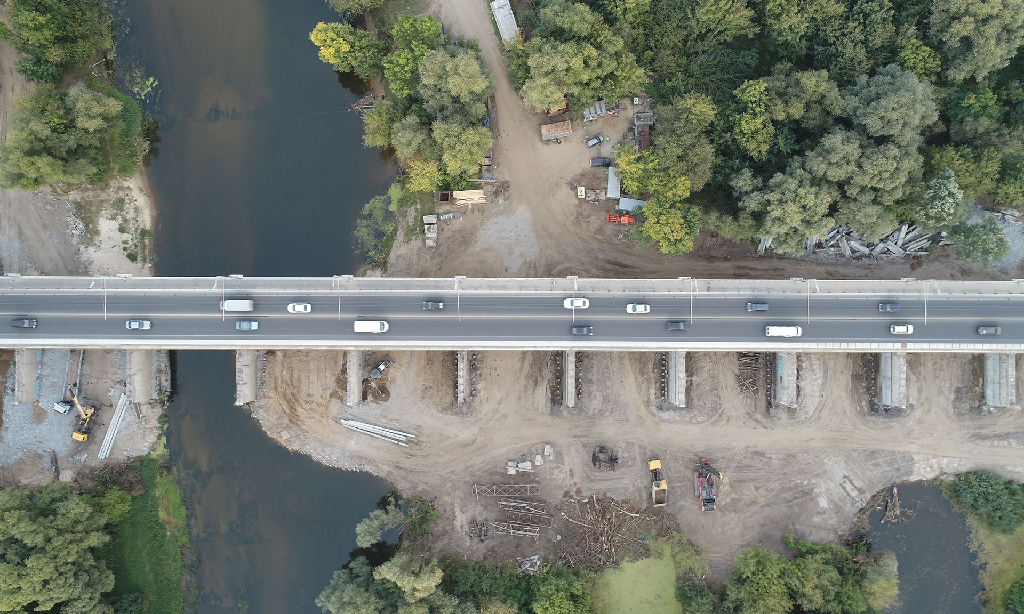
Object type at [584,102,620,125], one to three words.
shed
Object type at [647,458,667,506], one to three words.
vehicle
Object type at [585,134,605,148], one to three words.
car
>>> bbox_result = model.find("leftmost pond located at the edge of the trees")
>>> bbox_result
[593,534,683,614]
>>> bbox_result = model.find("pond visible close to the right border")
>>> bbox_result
[863,484,1024,614]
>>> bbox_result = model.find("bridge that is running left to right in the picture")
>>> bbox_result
[0,274,1024,408]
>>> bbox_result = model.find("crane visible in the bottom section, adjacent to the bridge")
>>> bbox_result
[67,385,113,440]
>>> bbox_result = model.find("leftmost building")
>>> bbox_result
[490,0,519,47]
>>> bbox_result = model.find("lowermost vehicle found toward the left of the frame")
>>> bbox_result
[52,397,79,415]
